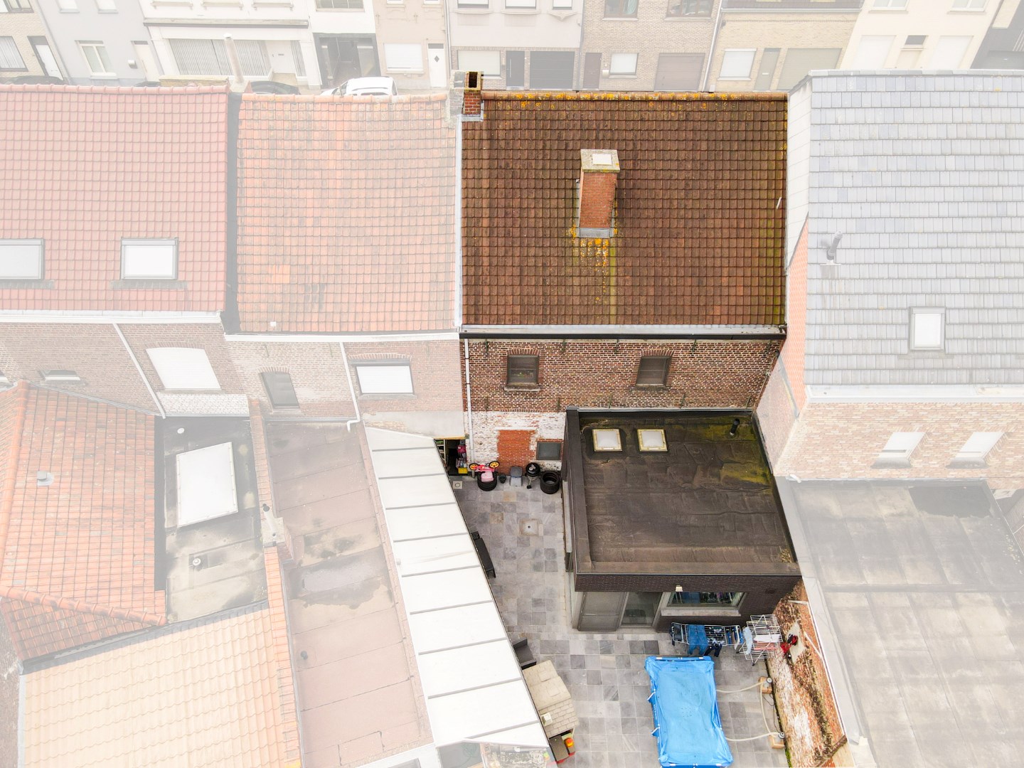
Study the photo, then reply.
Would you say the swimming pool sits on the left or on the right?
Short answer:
right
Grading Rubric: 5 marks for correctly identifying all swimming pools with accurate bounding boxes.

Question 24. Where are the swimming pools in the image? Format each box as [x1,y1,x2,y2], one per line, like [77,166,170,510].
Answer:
[637,655,735,768]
